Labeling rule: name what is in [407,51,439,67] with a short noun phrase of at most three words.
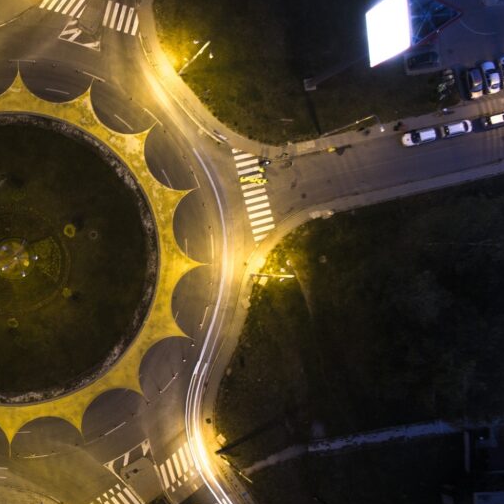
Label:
car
